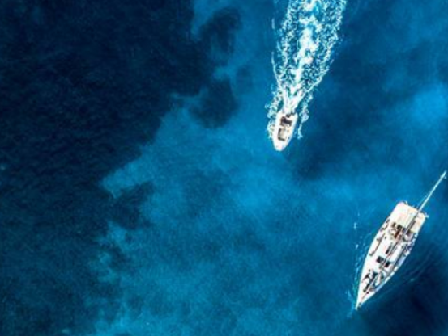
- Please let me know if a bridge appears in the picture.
No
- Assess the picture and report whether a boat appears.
Yes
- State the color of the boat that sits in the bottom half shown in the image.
white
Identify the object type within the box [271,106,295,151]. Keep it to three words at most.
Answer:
boat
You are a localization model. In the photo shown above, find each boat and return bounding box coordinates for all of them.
[271,106,295,151]
[352,164,439,310]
